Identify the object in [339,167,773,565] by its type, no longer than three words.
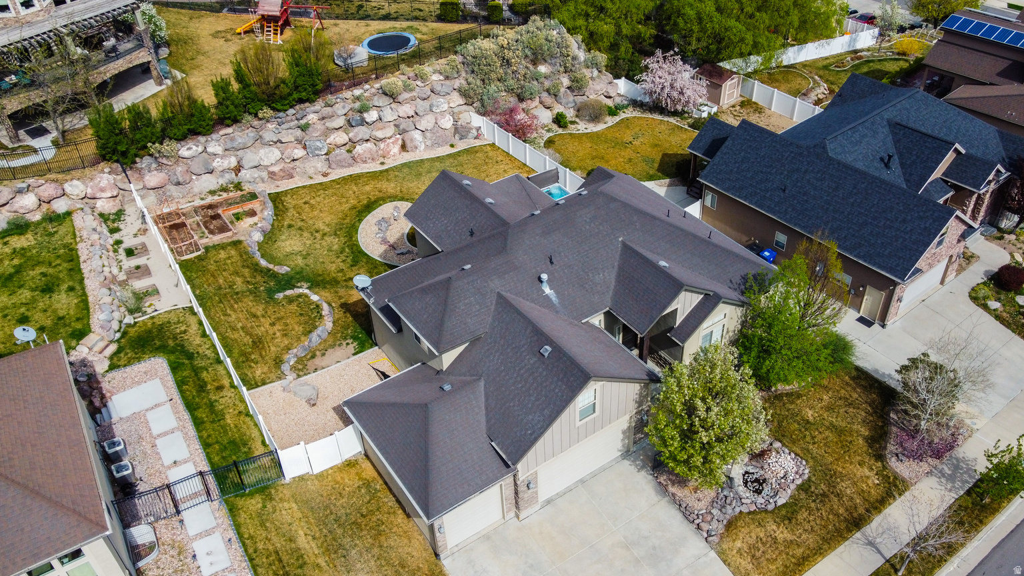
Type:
house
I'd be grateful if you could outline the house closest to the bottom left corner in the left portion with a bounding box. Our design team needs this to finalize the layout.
[0,341,125,576]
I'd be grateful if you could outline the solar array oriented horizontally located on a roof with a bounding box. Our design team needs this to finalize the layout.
[941,13,1024,45]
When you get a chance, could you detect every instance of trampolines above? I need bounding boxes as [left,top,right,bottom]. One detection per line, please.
[360,30,420,65]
